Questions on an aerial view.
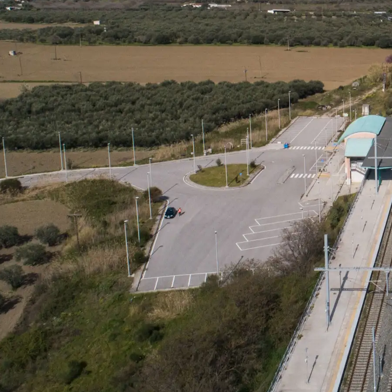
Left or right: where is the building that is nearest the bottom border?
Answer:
right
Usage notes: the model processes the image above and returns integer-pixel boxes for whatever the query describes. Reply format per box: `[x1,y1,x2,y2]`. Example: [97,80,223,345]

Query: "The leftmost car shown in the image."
[163,208,176,220]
